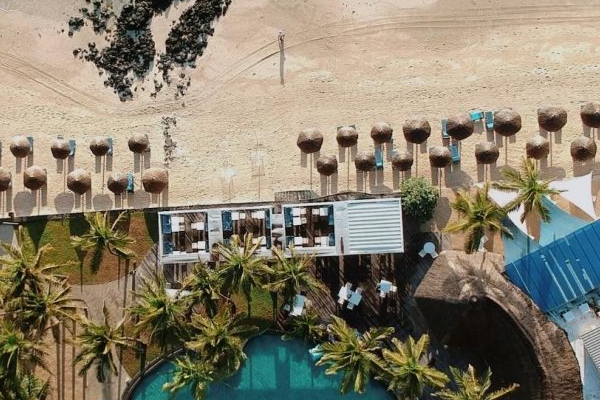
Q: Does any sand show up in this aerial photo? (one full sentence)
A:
Yes, there is sand in the image.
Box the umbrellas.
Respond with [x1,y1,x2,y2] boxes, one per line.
[355,152,375,171]
[11,137,31,156]
[445,113,472,140]
[429,147,450,168]
[524,135,548,158]
[336,127,358,148]
[537,105,566,134]
[91,136,110,155]
[108,174,128,193]
[128,133,150,154]
[0,167,11,191]
[494,108,521,136]
[52,139,71,157]
[298,129,323,153]
[68,170,91,192]
[475,140,498,164]
[316,156,336,175]
[579,101,600,130]
[143,169,167,193]
[569,136,595,161]
[391,151,412,172]
[25,166,47,189]
[371,122,392,143]
[403,117,431,144]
